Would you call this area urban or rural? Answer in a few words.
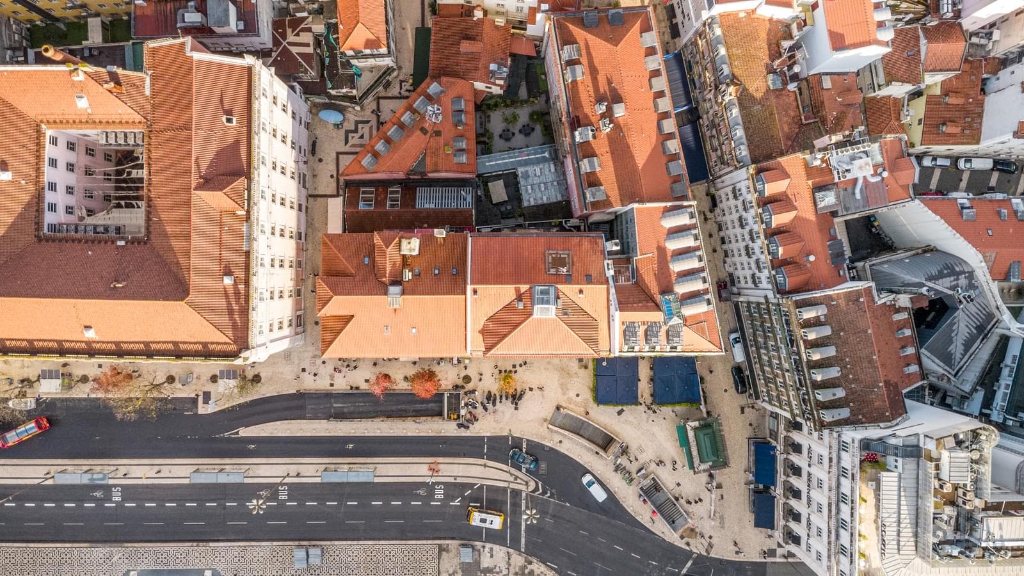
urban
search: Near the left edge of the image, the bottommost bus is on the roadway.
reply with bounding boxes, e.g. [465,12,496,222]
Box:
[0,415,50,451]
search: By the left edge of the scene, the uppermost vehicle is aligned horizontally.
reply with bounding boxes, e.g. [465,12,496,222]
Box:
[3,399,33,412]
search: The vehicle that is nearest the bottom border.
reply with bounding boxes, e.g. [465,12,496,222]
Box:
[465,509,504,536]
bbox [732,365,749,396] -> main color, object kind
black car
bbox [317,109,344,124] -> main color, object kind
blue umbrella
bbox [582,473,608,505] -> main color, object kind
white car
